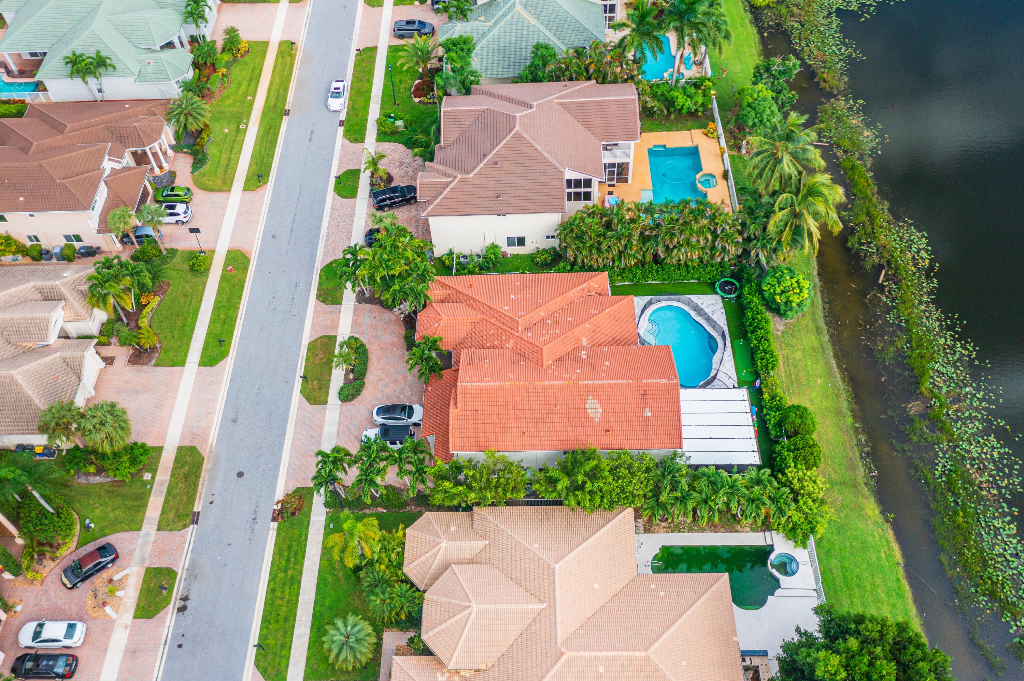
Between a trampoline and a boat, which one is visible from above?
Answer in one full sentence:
This aerial view contains a trampoline.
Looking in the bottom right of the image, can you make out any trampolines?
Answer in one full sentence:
No, no trampoline can be made out in the bottom right of the image.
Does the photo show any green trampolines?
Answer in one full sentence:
Yes, looking at the shot, I can spot a green trampoline.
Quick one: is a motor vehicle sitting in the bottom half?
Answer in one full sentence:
Yes, in the bottom half there is a motor vehicle.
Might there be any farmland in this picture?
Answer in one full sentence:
No, the picture contains no farmland.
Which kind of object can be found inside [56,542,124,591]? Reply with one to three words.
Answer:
car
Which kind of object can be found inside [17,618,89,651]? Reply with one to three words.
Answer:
car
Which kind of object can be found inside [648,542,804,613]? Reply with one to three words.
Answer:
swimming pool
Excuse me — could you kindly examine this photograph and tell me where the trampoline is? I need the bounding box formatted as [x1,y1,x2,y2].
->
[712,274,743,311]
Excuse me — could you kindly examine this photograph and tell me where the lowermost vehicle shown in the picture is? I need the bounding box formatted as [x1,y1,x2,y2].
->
[9,649,82,681]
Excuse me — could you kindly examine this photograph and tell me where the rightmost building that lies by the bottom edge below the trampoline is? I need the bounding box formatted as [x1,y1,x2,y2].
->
[391,503,745,681]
